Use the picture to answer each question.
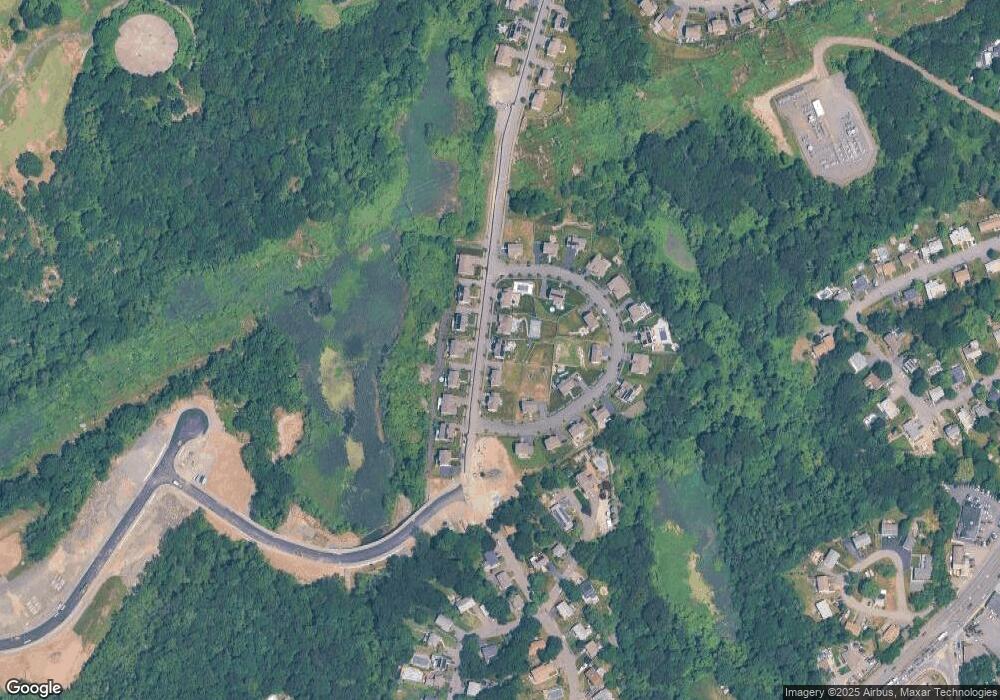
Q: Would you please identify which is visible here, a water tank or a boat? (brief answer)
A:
water tank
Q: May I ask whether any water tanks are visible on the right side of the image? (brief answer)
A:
No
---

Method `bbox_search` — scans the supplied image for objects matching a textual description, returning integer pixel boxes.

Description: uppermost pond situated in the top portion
[395,54,459,217]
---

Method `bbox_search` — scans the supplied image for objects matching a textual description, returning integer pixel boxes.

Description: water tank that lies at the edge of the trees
[116,15,178,75]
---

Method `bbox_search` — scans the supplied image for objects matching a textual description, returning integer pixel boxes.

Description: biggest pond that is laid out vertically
[269,229,409,529]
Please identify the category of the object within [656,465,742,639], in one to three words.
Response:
pond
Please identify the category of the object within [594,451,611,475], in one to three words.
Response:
swimming pool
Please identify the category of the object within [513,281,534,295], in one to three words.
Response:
swimming pool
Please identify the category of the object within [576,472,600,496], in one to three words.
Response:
house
